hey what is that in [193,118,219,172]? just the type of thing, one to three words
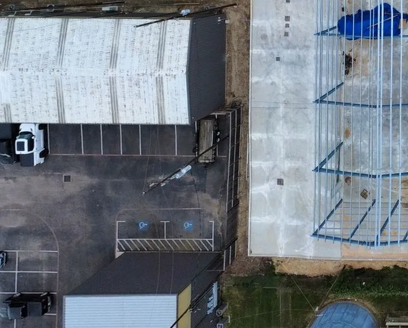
trailer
